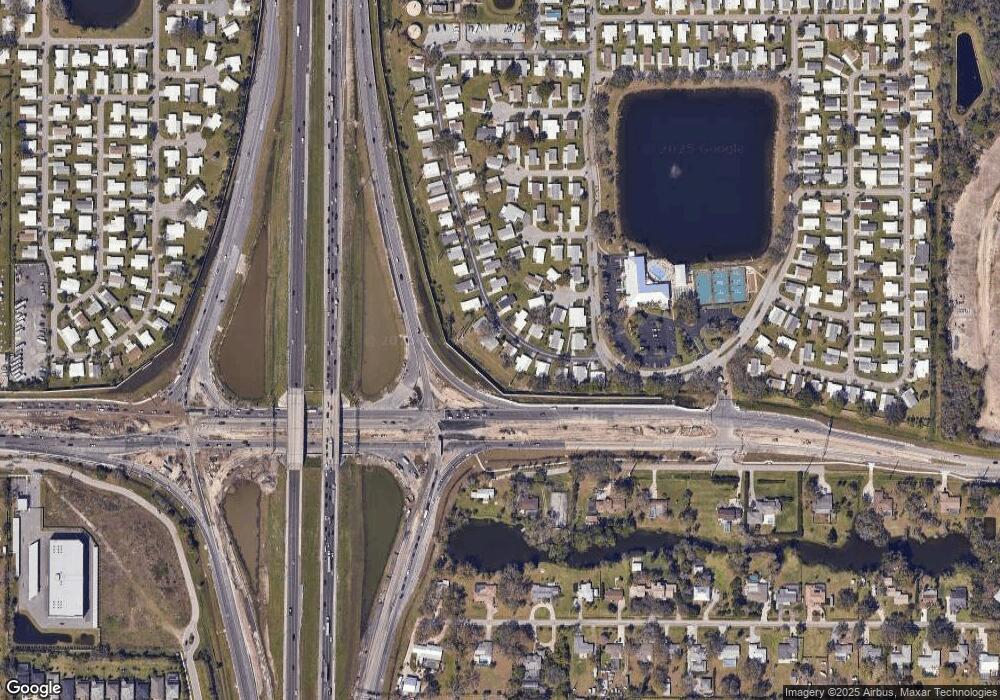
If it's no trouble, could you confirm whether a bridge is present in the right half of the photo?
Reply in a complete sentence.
No, no bridge can be made out in the right half of the photo.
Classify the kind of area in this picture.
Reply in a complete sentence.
It's a residential area.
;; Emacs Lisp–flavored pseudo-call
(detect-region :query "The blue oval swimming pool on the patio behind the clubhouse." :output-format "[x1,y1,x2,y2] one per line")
[648,263,667,280]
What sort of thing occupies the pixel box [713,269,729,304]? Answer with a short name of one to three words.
tennis court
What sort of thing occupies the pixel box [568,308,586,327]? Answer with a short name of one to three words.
house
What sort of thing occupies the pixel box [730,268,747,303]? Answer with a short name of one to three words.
tennis court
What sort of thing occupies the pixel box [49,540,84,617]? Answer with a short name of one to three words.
building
